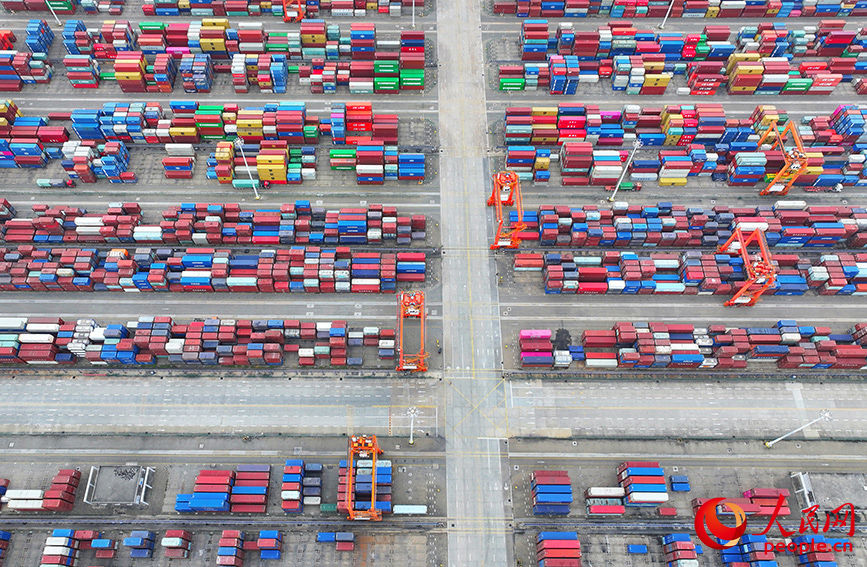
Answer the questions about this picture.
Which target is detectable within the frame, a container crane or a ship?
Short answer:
container crane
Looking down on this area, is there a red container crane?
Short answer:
Yes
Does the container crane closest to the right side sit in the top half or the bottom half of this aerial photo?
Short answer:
top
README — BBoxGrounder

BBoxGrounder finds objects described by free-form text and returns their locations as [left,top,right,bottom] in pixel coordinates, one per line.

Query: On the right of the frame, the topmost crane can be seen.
[754,118,812,194]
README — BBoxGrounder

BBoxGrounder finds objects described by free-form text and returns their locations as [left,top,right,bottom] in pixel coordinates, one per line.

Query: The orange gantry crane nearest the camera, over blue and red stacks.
[340,435,385,524]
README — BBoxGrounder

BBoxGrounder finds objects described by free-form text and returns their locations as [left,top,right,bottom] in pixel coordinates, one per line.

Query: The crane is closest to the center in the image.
[395,289,430,372]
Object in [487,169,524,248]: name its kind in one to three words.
container crane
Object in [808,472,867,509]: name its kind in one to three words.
shed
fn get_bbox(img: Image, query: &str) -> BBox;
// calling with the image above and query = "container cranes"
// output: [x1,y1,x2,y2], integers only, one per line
[713,223,780,303]
[340,435,385,524]
[487,169,524,248]
[754,118,812,194]
[283,0,308,23]
[395,289,430,372]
